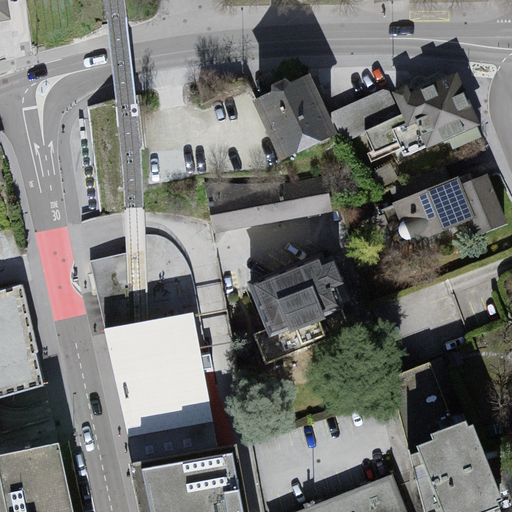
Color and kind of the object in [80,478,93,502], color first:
black vehicle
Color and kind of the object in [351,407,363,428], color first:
white vehicle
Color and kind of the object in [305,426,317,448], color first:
blue vehicle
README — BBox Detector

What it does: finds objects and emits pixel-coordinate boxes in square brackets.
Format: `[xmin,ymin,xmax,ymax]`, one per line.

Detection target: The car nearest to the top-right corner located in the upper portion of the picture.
[390,24,414,36]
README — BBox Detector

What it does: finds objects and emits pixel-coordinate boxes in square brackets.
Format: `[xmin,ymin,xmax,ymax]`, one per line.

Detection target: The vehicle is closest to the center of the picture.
[246,260,267,278]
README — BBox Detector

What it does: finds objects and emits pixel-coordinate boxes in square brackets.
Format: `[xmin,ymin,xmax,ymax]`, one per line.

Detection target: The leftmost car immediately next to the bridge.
[84,54,108,67]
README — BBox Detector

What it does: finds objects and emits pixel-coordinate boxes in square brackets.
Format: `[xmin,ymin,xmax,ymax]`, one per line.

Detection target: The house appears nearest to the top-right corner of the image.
[392,72,482,153]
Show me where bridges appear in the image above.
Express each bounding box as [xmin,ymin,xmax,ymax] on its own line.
[104,0,144,208]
